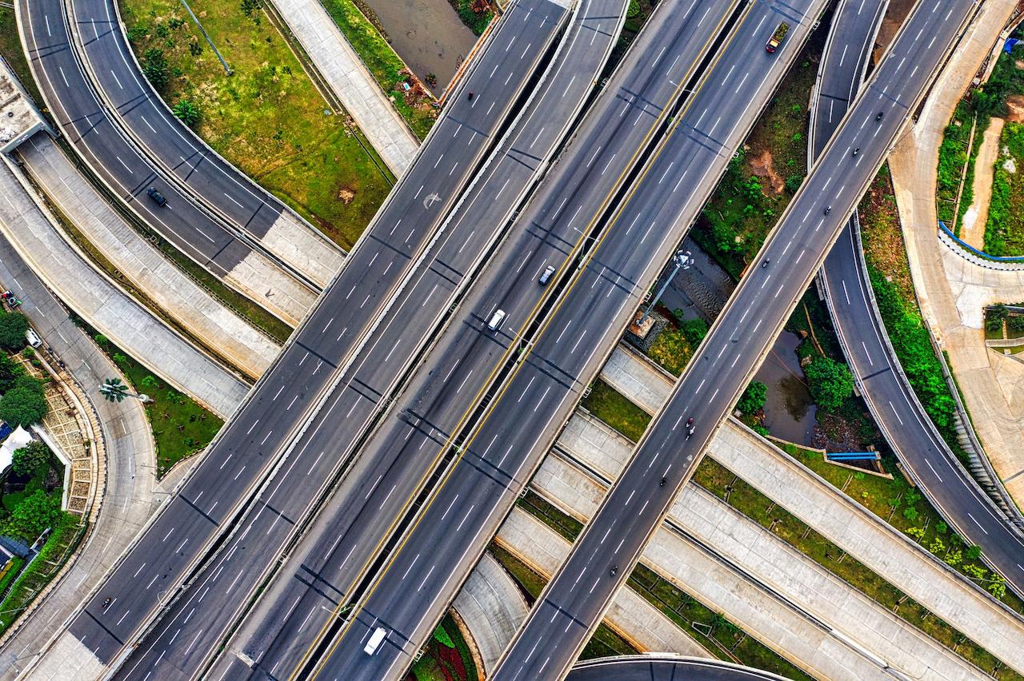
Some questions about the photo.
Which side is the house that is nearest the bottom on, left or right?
left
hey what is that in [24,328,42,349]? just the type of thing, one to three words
vehicle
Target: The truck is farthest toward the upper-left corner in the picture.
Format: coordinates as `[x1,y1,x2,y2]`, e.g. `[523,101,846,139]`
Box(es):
[144,185,166,206]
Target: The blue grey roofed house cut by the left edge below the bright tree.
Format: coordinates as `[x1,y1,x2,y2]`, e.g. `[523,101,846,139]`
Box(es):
[0,540,34,572]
